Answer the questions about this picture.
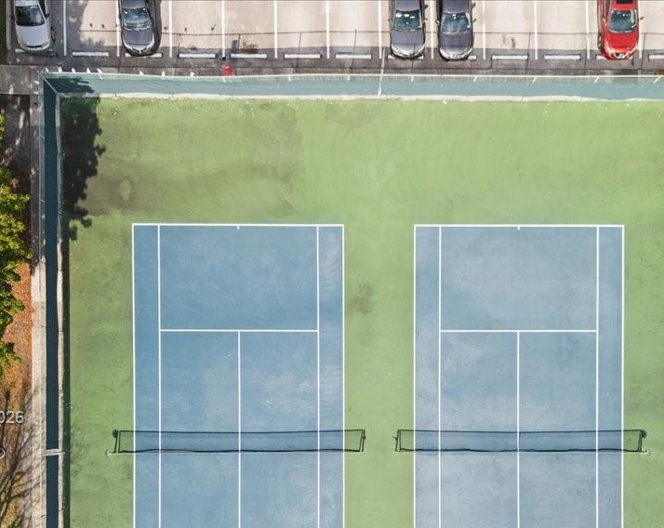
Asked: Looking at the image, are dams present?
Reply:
No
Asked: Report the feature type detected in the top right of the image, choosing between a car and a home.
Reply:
car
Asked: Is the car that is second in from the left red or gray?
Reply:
gray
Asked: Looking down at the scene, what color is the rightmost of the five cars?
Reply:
red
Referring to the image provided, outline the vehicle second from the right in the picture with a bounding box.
[436,0,479,62]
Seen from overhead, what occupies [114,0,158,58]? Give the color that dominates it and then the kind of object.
gray car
